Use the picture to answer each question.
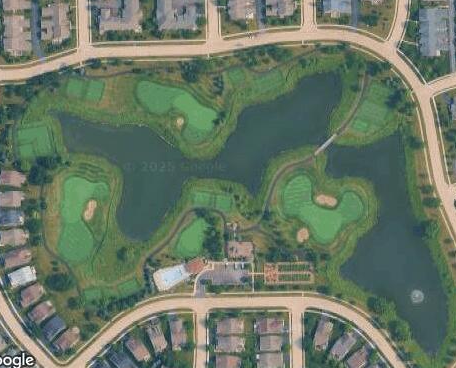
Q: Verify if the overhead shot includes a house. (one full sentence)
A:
Yes, the picture does show a house.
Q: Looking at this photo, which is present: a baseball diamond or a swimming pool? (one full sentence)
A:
Looking from above, you can make out a swimming pool.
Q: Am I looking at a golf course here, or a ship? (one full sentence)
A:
The one in the frame is a golf course.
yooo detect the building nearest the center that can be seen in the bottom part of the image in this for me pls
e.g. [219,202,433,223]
[228,240,252,260]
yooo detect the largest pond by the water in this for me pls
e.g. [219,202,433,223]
[48,72,447,355]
